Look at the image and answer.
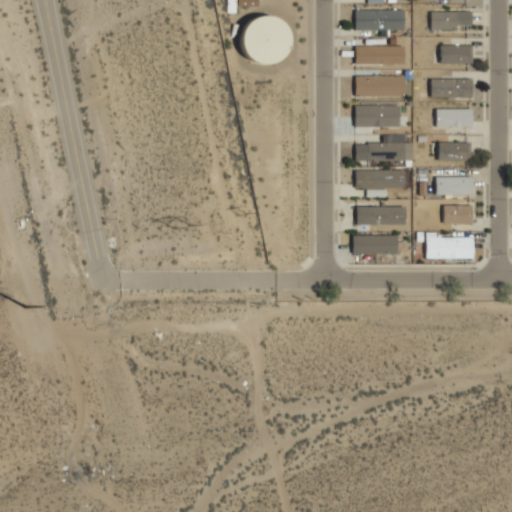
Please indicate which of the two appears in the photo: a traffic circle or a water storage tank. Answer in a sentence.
It is a water storage tank that can be seen here.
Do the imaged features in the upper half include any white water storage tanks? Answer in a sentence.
Yes, a white water storage tank is visible in the upper half.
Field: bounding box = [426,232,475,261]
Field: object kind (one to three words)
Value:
house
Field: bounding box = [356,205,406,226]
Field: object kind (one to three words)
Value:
house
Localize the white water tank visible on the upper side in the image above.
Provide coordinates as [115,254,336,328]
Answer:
[240,14,293,66]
